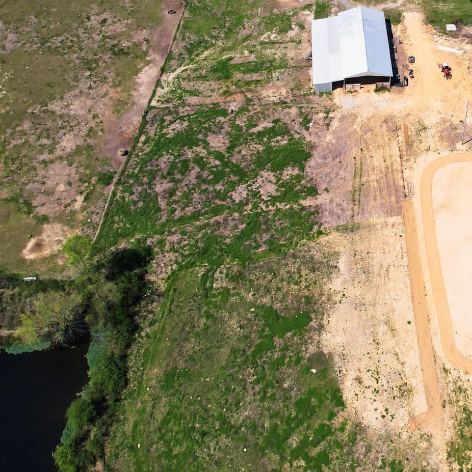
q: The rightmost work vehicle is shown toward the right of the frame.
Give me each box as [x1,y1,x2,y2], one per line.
[436,61,454,80]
